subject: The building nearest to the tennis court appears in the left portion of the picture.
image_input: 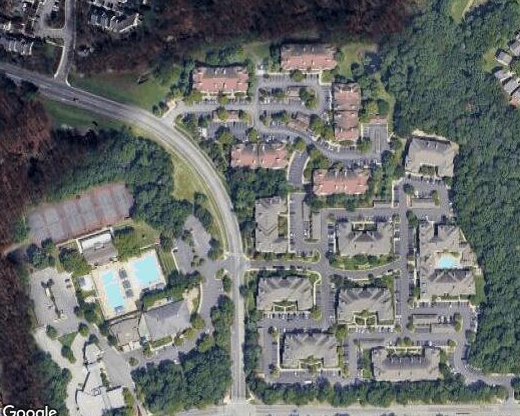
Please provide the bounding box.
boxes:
[81,233,118,265]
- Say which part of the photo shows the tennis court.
left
